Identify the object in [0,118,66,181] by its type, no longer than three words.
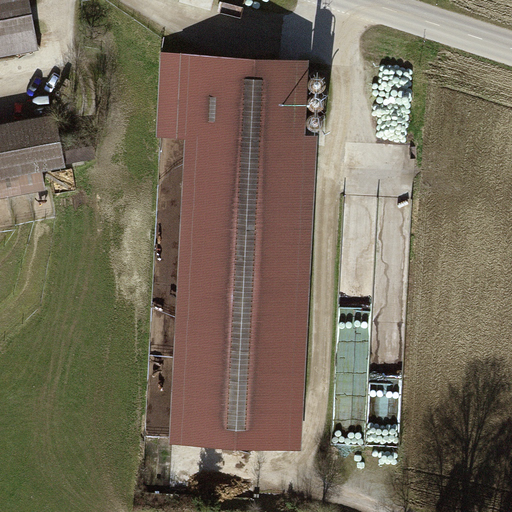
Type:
house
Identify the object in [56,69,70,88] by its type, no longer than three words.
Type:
car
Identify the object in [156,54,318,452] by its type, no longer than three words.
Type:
barn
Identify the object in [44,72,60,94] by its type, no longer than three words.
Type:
car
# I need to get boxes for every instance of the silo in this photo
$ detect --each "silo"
[304,111,327,134]
[305,72,329,96]
[306,92,328,114]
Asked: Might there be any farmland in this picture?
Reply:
Yes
